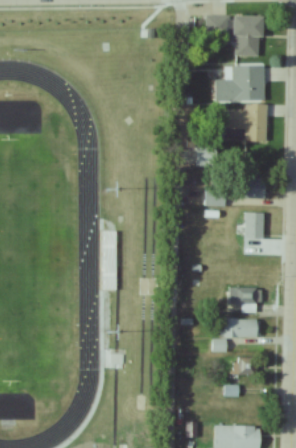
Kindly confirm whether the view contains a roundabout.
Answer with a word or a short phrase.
No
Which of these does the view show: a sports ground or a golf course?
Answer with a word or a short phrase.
sports ground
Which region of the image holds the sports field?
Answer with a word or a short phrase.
left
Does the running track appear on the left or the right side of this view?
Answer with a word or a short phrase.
left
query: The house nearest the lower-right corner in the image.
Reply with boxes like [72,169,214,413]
[212,423,262,448]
